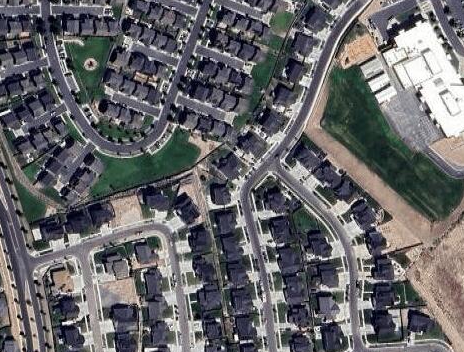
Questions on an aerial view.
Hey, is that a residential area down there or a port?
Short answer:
residential area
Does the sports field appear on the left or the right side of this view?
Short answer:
right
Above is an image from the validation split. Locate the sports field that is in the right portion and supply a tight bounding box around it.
[320,61,464,220]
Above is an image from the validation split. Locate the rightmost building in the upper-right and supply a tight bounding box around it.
[383,20,464,133]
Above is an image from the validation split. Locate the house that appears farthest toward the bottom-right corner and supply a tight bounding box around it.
[407,312,432,333]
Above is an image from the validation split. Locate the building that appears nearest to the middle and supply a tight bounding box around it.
[219,155,242,182]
